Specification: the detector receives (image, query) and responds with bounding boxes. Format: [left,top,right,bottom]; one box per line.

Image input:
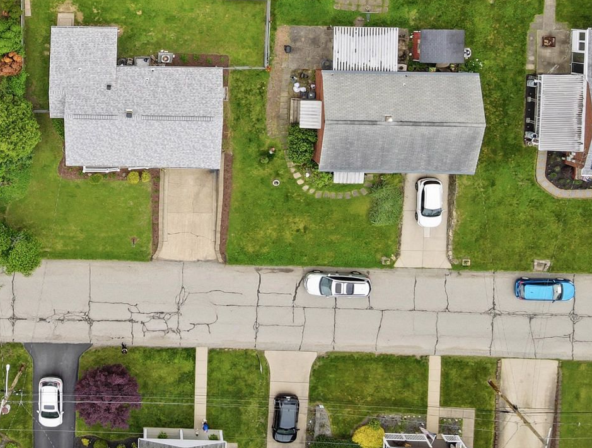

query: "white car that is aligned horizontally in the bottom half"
[302,271,371,302]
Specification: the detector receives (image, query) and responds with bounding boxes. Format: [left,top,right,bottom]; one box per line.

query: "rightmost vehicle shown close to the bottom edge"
[269,391,301,442]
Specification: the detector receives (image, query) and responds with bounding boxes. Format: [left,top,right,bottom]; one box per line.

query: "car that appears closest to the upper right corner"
[417,177,447,227]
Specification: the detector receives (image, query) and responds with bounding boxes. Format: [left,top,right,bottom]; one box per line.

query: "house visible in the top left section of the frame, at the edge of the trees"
[48,26,226,173]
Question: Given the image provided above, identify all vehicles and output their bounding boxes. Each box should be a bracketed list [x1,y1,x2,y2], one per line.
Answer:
[417,177,447,227]
[269,391,301,442]
[35,375,64,428]
[302,271,371,302]
[514,276,574,306]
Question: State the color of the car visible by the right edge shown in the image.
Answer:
blue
